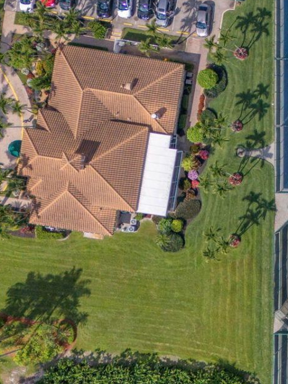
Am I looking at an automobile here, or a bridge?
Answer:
automobile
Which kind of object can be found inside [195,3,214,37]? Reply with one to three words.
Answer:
car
